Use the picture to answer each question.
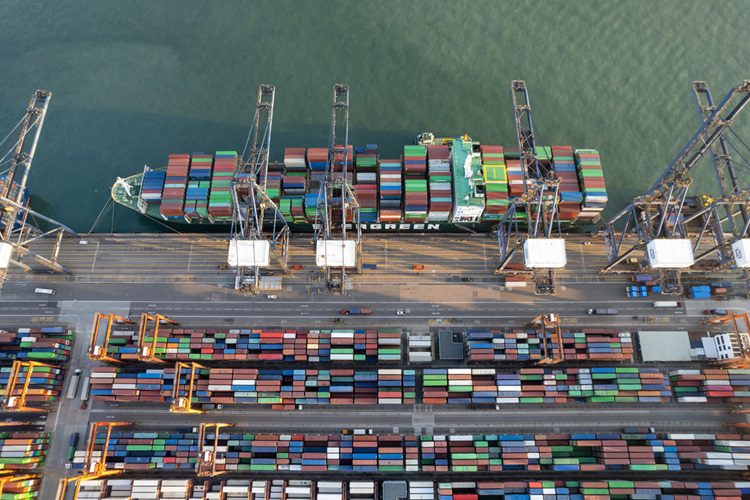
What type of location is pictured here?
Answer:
port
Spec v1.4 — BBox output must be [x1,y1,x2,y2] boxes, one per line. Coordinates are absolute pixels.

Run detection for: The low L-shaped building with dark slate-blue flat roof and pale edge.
[437,329,464,360]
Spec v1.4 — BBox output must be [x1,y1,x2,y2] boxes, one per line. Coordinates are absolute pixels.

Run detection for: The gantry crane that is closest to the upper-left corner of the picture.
[0,86,83,277]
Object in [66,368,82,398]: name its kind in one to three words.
vehicle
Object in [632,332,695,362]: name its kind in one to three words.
building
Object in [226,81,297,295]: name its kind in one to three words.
container crane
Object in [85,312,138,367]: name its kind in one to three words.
container crane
